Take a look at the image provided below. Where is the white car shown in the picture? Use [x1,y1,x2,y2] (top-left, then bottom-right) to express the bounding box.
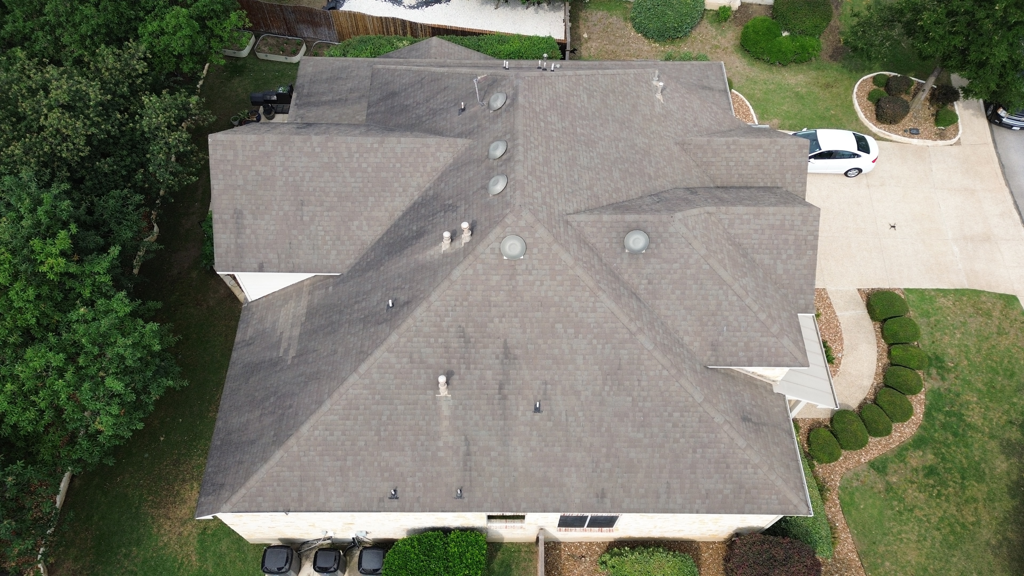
[784,122,883,181]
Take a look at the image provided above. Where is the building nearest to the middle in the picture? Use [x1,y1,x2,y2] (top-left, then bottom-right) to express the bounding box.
[197,37,841,556]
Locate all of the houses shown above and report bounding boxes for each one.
[197,37,841,556]
[702,0,774,10]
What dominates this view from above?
buildings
